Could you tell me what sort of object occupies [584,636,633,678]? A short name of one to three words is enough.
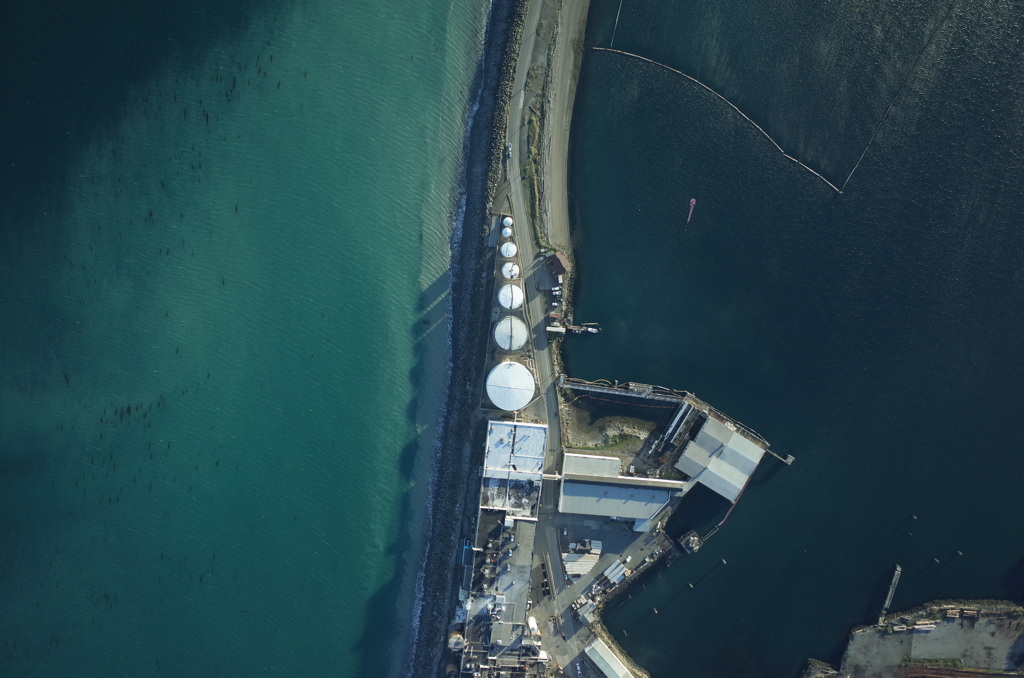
building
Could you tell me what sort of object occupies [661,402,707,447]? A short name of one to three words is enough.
pier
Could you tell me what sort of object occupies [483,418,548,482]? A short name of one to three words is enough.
building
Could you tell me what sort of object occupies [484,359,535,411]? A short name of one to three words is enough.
storage tank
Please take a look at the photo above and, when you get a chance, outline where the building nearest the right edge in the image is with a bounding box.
[672,416,766,502]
